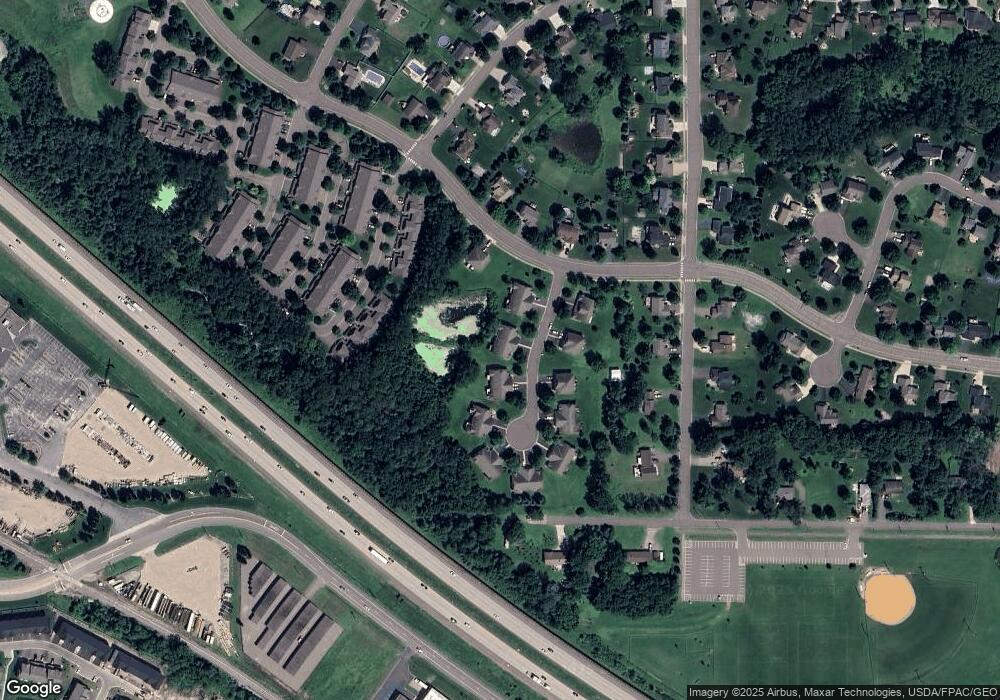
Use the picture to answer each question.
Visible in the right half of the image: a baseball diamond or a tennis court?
baseball diamond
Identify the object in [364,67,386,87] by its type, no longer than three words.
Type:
swimming pool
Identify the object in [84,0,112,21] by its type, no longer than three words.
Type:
water tower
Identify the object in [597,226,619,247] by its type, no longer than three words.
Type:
house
